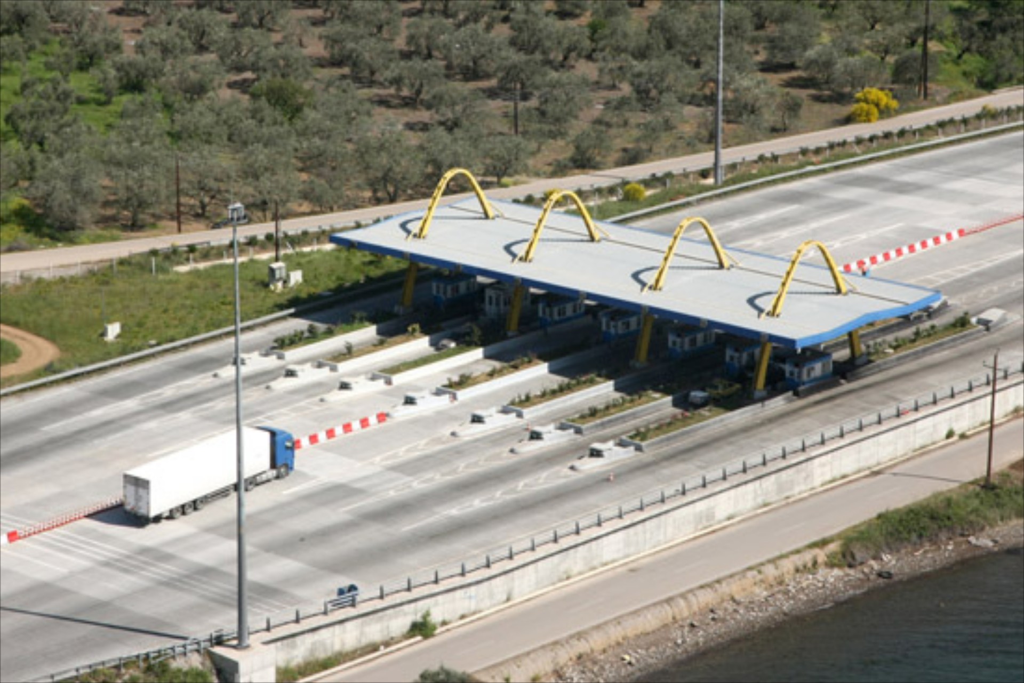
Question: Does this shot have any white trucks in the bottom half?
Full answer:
Yes, you'll find a white truck in the bottom half.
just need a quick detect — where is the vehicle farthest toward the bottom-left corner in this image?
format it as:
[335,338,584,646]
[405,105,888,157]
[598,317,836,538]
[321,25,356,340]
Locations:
[122,423,296,526]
